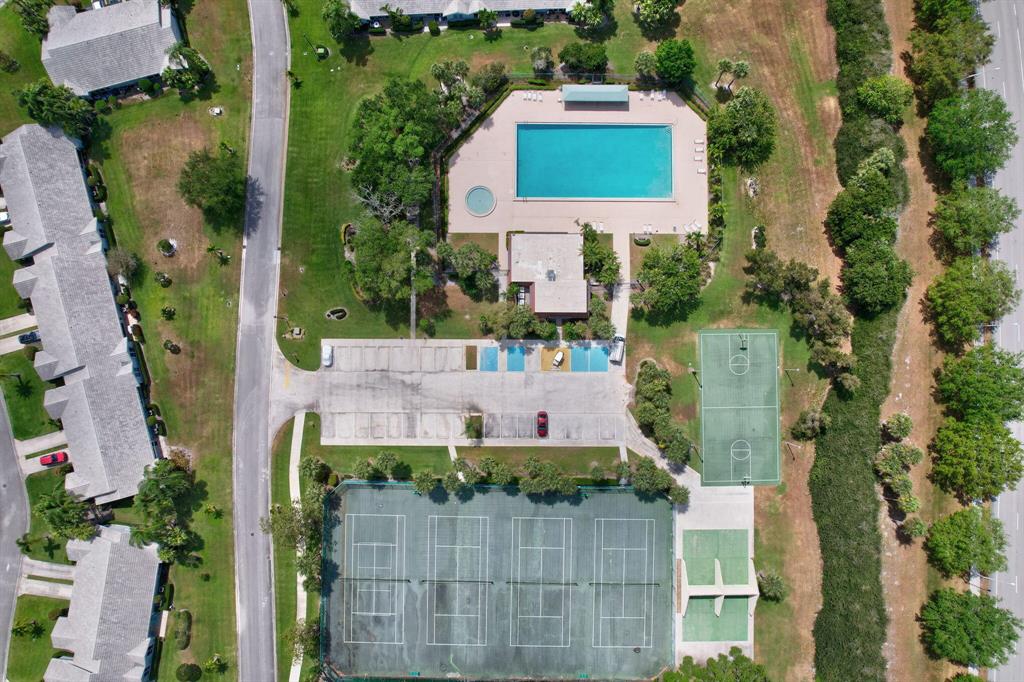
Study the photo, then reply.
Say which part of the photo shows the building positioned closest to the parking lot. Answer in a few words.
center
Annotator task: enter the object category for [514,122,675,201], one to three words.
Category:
swimming pool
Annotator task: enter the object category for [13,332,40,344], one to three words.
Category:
vehicle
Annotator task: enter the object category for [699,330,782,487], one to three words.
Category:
basketball court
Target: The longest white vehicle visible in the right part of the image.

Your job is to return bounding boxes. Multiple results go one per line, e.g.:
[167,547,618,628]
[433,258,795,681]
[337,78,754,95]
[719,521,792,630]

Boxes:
[610,337,625,365]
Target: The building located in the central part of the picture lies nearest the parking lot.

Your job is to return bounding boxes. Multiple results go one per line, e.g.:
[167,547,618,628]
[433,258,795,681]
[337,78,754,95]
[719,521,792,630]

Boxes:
[507,234,588,318]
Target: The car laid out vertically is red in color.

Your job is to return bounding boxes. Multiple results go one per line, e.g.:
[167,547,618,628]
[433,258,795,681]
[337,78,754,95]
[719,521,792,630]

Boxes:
[537,411,549,438]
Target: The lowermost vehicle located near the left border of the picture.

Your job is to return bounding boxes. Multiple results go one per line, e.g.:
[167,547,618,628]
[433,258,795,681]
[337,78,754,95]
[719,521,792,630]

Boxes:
[40,453,66,467]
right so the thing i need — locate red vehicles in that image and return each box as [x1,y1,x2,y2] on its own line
[537,411,549,438]
[40,453,66,467]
